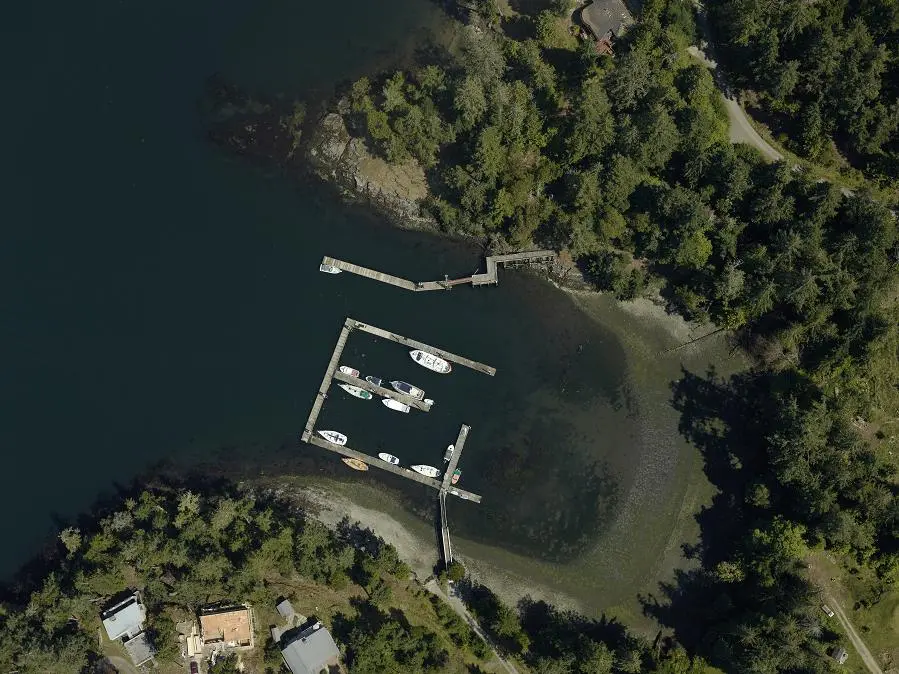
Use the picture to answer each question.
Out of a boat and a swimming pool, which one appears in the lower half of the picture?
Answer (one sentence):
It is a boat that can be seen in the lower half of the picture.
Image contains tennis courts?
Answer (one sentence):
No, the frame has no tennis court in it.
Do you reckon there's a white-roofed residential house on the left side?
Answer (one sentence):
Yes, a white-roofed residential house is visible on the left side.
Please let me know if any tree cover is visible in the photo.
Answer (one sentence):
Yes, there's tree cover in this view.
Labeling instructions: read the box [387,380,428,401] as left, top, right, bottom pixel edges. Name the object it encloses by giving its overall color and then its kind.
white boat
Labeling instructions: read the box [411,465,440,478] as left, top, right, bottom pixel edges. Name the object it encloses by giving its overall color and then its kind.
white boat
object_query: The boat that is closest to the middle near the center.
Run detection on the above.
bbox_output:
[409,350,454,375]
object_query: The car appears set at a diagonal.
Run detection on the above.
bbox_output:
[821,603,836,619]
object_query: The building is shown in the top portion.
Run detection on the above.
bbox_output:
[582,0,634,55]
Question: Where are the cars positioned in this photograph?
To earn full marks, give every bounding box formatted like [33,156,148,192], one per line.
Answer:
[821,603,836,619]
[191,660,198,674]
